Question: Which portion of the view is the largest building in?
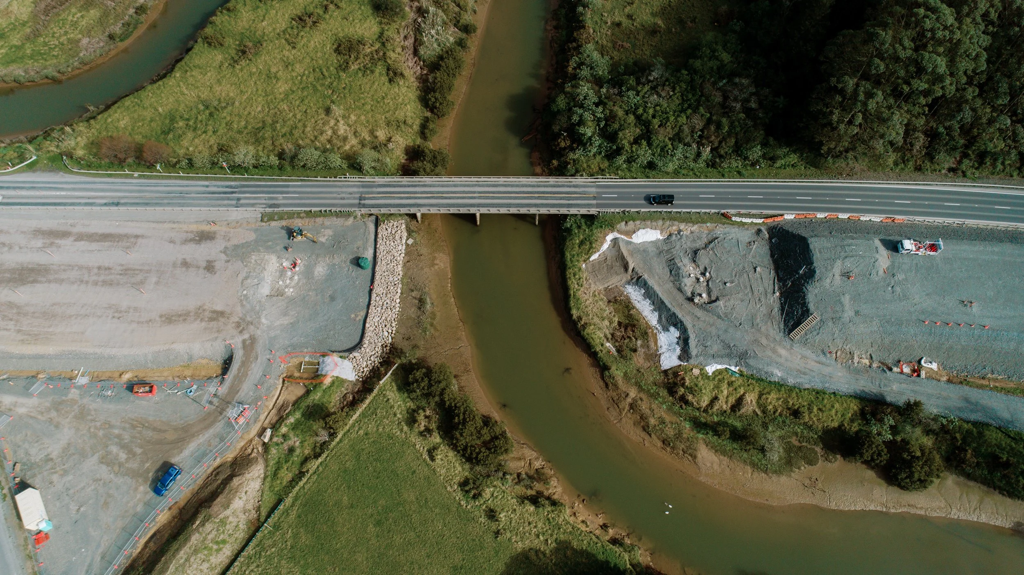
bottom left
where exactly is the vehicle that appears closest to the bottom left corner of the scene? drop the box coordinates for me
[153,467,180,498]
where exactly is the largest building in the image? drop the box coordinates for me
[14,490,49,530]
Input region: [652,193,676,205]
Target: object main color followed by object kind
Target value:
black vehicle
